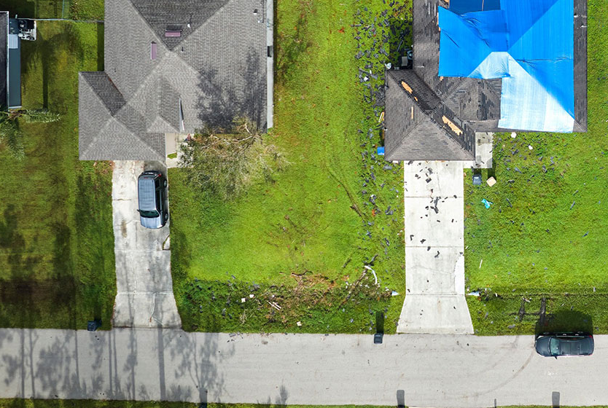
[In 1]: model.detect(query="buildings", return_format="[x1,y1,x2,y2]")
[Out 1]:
[385,0,587,161]
[0,10,27,124]
[78,0,275,160]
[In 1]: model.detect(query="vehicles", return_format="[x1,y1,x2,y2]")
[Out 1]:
[135,170,167,227]
[535,331,593,361]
